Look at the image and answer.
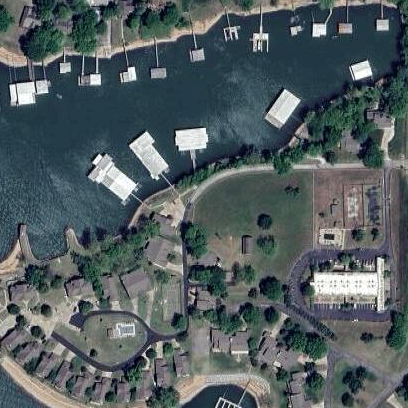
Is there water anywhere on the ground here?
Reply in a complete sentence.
Yes, there is water in the image.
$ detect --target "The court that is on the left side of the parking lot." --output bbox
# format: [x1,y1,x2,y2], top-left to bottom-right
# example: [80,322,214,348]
[163,283,183,321]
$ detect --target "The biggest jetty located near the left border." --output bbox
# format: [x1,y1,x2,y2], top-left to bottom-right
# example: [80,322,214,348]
[10,63,35,105]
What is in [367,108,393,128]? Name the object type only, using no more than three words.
house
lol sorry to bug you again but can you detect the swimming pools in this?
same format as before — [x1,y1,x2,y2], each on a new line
[116,322,136,336]
[319,228,345,248]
